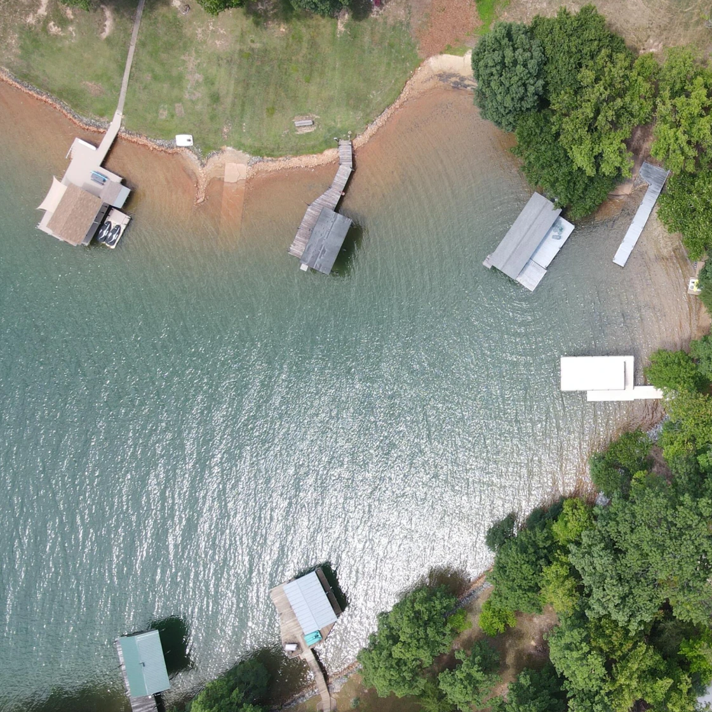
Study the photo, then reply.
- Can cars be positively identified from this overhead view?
No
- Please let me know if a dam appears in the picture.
No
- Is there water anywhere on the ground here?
Yes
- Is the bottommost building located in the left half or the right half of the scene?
left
